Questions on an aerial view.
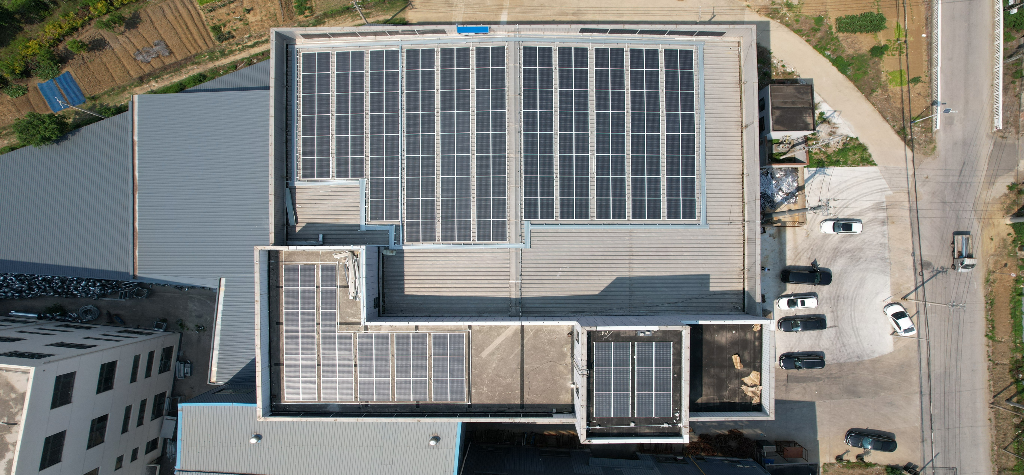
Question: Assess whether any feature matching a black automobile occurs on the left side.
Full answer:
No, no black automobile appears on the left side.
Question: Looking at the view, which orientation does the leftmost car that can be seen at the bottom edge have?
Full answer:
What the image shows is the leftmost car that can be seen at the bottom edge lying from left to right.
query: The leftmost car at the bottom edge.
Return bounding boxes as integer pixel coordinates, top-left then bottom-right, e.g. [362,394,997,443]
[844,432,896,453]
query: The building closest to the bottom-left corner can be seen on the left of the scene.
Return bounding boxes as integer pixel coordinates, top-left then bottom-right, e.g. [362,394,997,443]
[0,323,181,475]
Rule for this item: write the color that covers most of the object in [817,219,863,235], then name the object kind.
white car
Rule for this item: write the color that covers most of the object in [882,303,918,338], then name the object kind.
white car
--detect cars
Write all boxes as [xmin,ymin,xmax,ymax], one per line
[882,303,918,338]
[817,219,863,235]
[776,315,826,333]
[775,295,819,311]
[780,260,832,284]
[777,353,825,370]
[844,432,896,453]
